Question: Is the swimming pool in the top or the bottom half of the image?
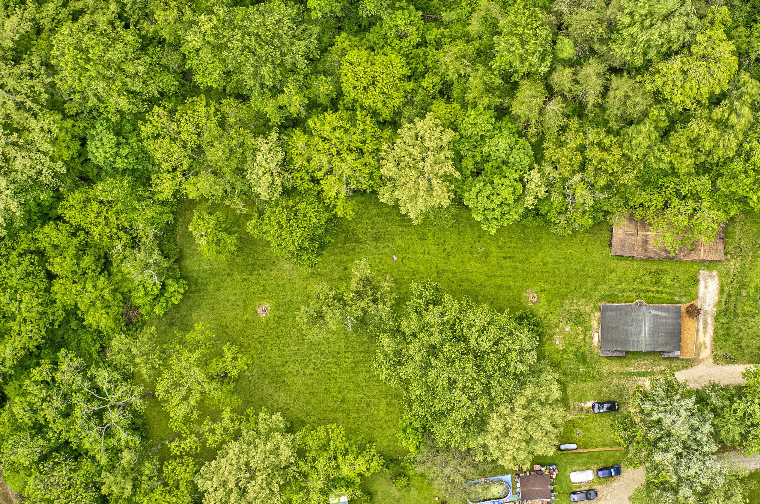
bottom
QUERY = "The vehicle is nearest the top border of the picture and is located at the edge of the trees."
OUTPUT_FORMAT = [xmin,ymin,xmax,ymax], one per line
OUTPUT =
[591,400,619,413]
